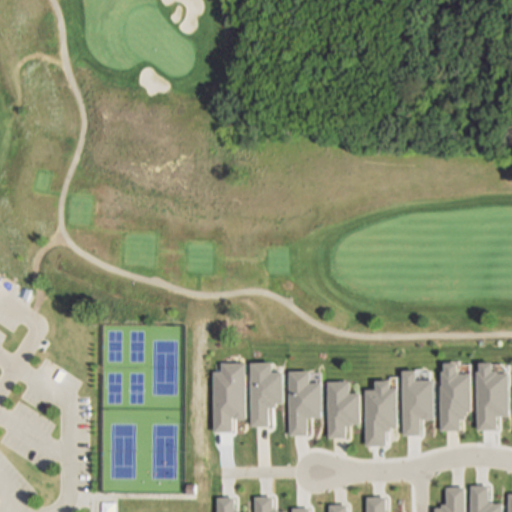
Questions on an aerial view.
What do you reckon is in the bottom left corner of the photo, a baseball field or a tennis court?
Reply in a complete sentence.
The one visible in the bottom left corner of the photo is a tennis court.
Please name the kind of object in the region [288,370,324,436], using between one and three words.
house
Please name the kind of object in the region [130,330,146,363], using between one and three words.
sports court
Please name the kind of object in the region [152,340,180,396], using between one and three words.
tennis court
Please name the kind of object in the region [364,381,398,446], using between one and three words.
house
